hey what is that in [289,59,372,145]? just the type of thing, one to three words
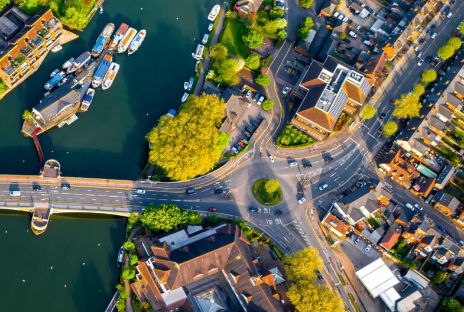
building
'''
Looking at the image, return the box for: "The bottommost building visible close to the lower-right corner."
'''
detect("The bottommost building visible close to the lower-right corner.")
[394,290,422,312]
